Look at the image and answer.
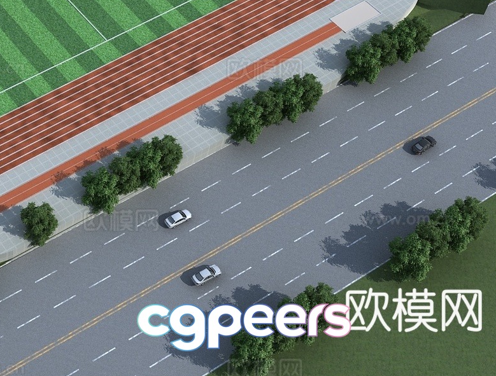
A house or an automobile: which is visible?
automobile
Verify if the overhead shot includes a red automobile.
No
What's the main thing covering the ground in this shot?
paved ground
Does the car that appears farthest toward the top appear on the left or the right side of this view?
right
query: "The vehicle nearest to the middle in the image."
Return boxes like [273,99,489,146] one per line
[165,209,196,232]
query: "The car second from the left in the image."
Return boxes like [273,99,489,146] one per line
[191,265,224,290]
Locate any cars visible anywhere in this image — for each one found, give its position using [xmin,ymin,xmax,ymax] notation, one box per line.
[165,209,196,232]
[191,265,224,290]
[412,137,441,157]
